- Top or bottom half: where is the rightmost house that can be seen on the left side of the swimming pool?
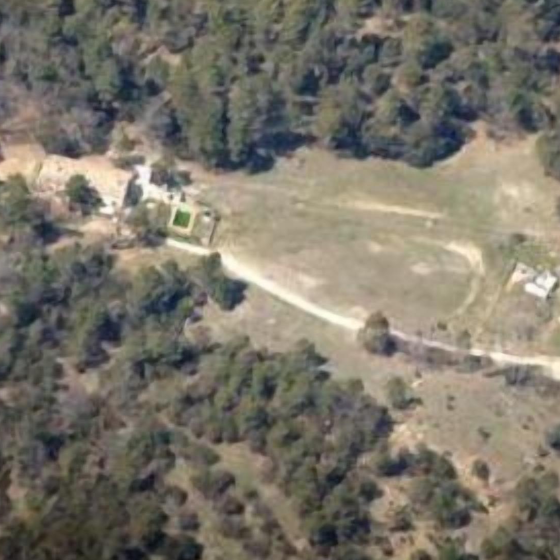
top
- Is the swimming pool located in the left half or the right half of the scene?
left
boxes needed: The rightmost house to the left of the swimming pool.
[88,164,136,219]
